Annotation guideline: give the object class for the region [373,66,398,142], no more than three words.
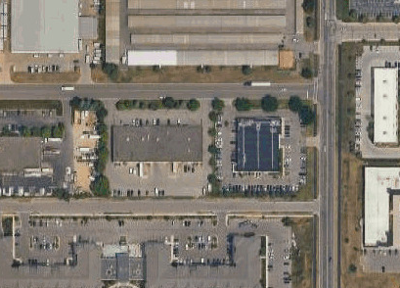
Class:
building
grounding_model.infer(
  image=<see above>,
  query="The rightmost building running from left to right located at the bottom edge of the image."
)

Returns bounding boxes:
[142,236,261,288]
